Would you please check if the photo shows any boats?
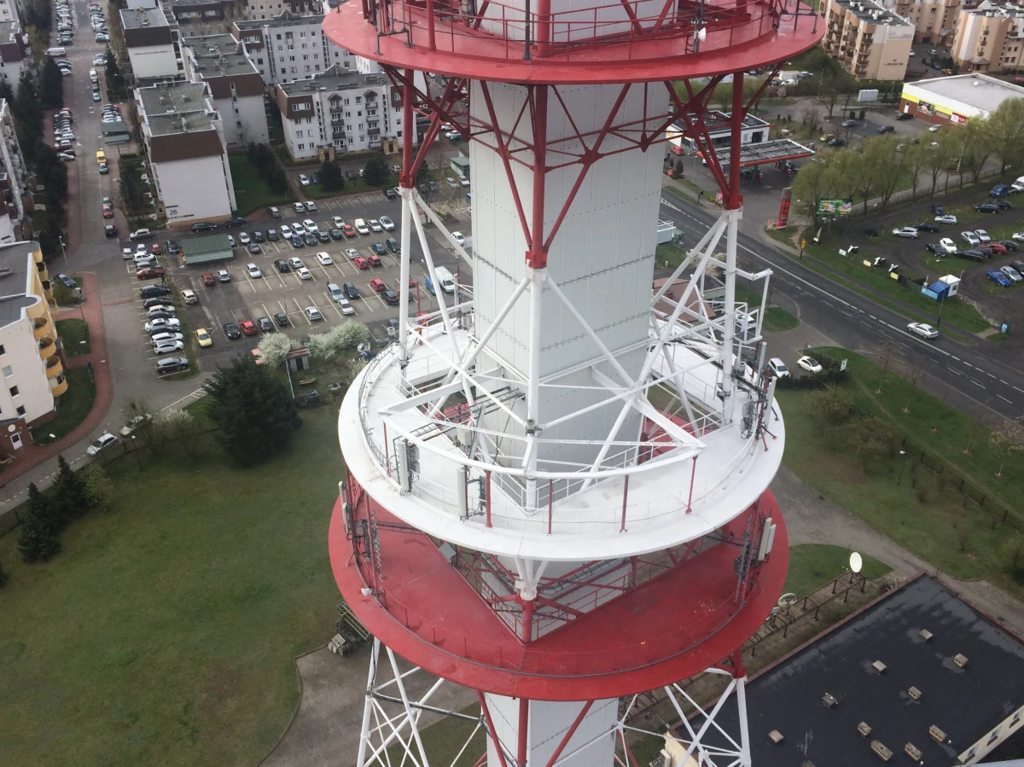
No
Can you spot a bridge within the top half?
No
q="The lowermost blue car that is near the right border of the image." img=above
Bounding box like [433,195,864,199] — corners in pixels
[982,271,1015,287]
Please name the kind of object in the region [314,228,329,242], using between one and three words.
car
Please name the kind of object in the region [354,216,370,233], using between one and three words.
vehicle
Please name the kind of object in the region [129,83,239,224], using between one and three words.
building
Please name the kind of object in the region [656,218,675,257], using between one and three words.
building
